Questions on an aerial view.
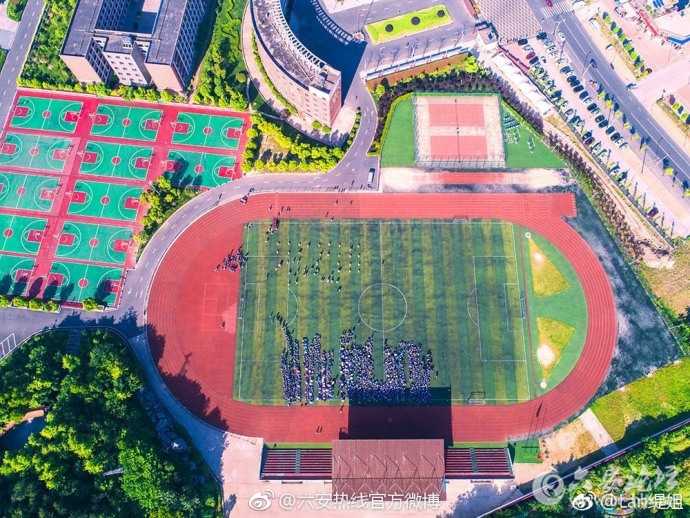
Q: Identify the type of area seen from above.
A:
sports ground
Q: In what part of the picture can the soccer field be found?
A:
center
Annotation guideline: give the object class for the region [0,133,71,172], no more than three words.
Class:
basketball court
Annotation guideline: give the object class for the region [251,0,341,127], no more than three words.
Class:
building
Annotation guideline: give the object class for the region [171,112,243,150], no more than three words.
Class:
basketball court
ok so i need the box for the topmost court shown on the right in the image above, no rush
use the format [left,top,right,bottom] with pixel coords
[429,104,486,126]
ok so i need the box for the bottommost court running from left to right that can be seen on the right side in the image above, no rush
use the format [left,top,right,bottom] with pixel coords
[431,136,488,160]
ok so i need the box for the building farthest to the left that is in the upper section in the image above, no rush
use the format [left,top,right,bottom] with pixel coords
[59,0,206,90]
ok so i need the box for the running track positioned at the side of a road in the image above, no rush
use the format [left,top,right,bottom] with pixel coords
[147,193,617,442]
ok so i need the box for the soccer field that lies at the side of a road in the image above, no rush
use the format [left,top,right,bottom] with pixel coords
[233,218,535,406]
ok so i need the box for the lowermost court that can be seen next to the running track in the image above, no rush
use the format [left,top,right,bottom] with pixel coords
[42,263,123,309]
